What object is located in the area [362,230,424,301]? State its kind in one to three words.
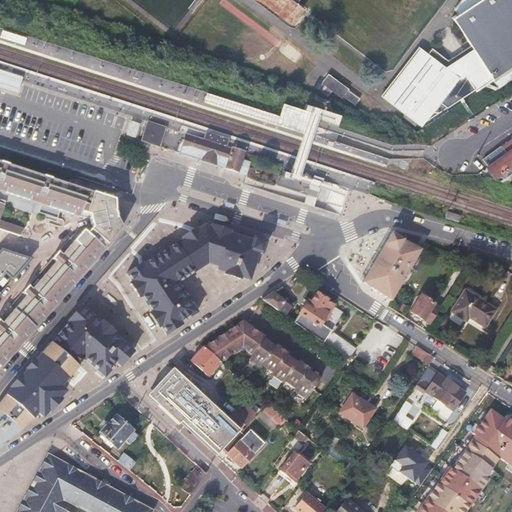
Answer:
house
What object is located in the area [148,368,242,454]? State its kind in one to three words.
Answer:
building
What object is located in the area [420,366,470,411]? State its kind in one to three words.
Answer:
house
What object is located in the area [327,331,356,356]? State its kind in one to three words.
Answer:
building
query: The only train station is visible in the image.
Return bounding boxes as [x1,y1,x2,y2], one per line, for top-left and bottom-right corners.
[0,30,392,194]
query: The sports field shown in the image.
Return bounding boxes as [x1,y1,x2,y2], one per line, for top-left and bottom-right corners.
[310,0,441,71]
